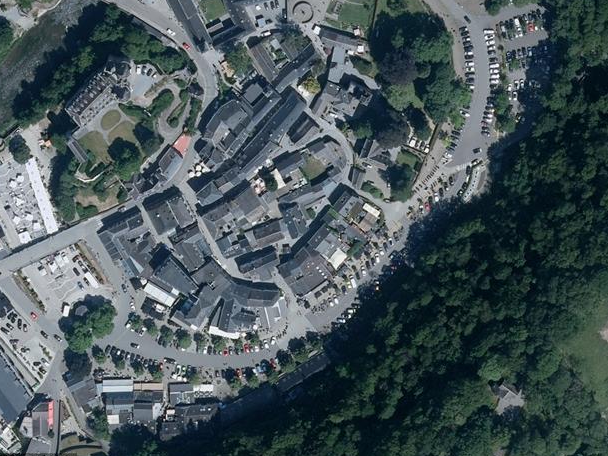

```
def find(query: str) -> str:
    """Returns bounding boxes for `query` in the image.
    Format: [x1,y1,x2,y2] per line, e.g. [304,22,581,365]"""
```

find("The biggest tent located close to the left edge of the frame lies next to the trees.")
[26,159,58,234]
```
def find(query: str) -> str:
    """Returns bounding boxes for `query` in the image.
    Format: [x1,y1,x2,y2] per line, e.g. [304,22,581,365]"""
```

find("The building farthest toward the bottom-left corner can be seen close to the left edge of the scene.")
[0,429,21,456]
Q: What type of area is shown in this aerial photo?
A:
residential area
